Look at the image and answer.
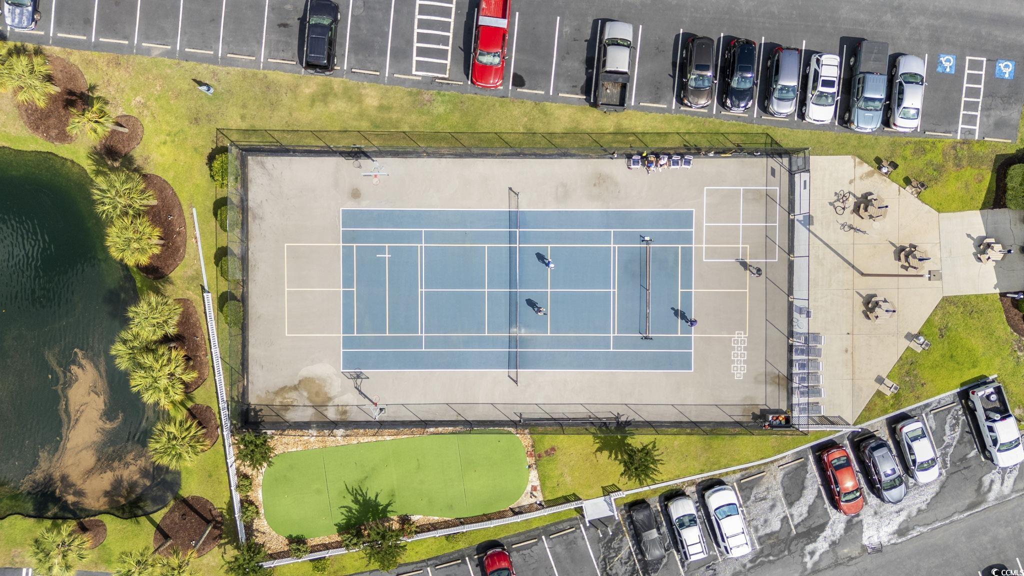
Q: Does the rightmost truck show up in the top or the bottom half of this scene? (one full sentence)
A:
You can find the rightmost truck in the bottom half.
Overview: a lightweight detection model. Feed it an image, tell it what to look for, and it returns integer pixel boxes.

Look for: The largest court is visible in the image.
[248,156,789,421]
